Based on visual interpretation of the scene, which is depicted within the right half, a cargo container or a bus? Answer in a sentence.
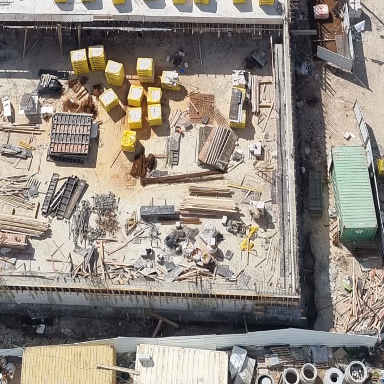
Visible within the right half is a cargo container.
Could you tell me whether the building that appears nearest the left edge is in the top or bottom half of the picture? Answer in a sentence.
The bottom half of the photo is where the building that appears nearest the left edge is.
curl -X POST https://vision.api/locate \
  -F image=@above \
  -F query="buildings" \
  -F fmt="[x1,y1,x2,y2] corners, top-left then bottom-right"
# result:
[134,343,229,384]
[22,344,121,384]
